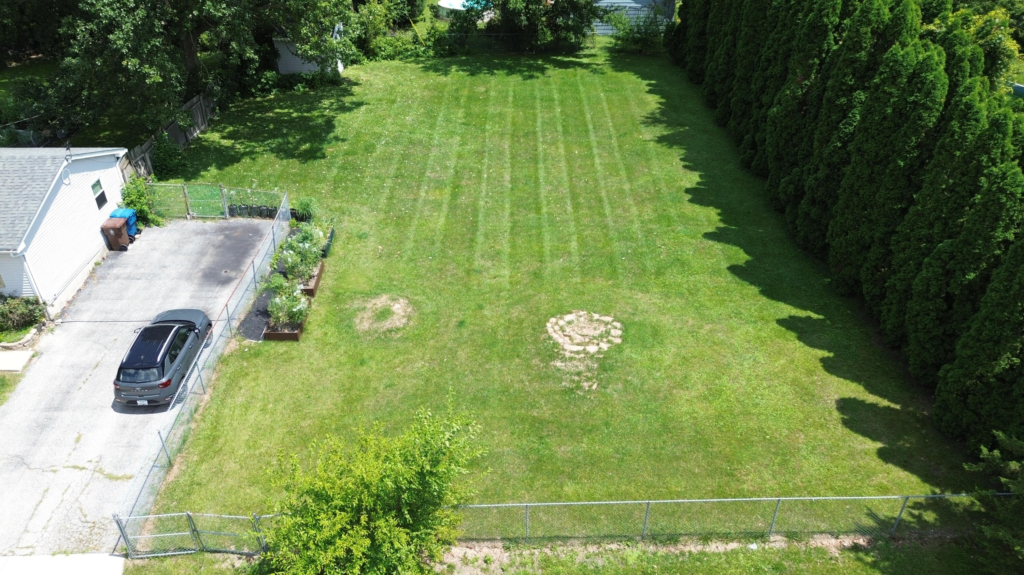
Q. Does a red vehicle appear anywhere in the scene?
No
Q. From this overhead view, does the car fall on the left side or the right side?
left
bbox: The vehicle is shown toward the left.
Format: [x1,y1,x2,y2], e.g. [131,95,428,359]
[114,309,212,406]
